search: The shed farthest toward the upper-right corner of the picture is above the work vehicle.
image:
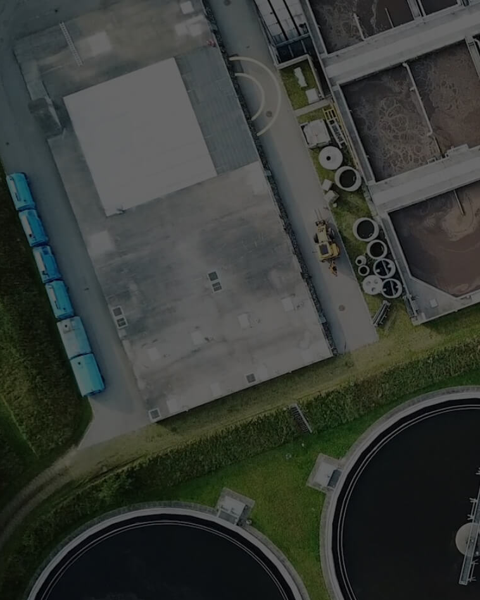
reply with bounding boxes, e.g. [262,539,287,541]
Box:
[298,116,335,152]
